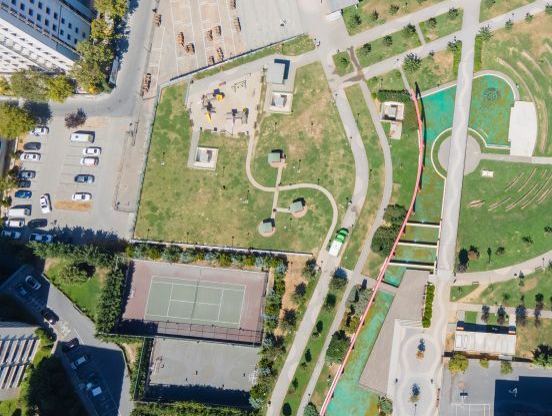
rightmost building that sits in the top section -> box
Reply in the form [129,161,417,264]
[381,103,404,121]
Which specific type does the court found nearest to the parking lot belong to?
tennis court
